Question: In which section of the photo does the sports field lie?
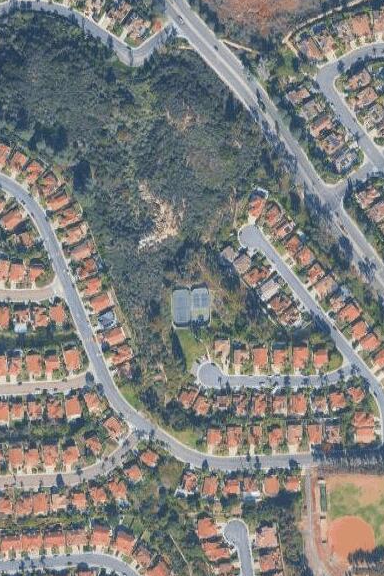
bottom right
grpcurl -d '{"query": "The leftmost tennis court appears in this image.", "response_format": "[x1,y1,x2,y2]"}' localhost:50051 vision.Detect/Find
[173,289,191,323]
